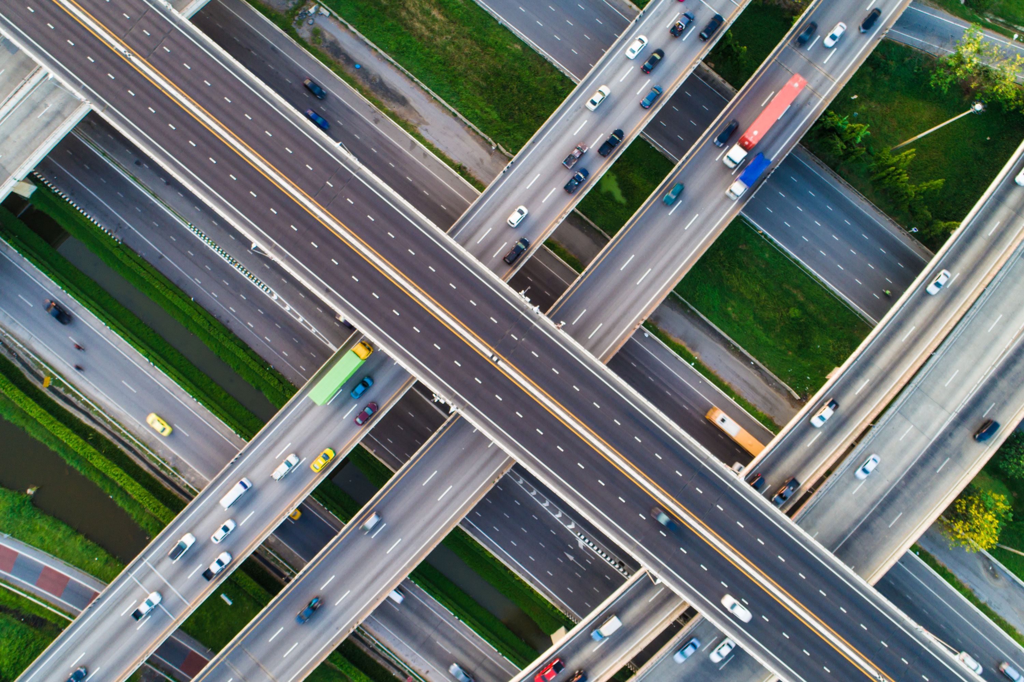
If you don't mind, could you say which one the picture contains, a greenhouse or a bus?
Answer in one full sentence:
Of the two, only a bus appears.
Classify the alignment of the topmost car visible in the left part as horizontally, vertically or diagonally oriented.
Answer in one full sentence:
From this overhead view, the topmost car visible in the left part appears to run diagonally.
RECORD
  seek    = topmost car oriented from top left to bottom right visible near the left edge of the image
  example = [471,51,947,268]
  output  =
[42,299,74,326]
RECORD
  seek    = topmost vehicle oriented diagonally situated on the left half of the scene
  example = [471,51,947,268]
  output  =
[299,75,329,102]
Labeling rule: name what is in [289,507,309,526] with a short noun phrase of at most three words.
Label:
car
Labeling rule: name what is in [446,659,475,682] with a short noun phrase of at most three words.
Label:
car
